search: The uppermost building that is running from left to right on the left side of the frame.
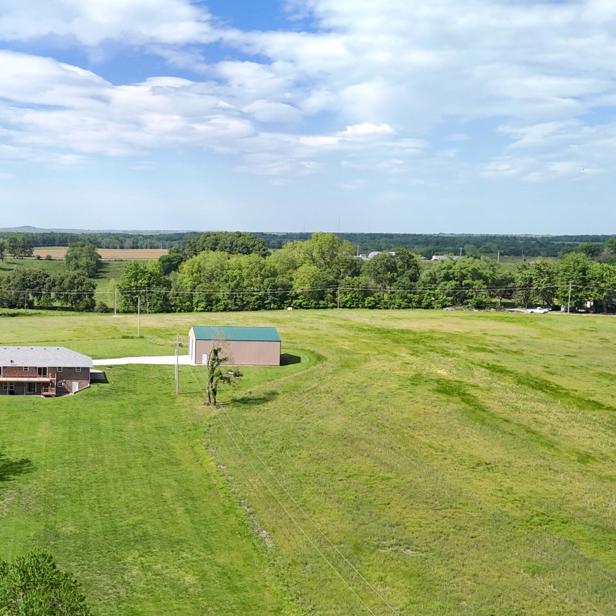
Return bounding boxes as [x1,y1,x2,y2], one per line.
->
[189,325,280,365]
